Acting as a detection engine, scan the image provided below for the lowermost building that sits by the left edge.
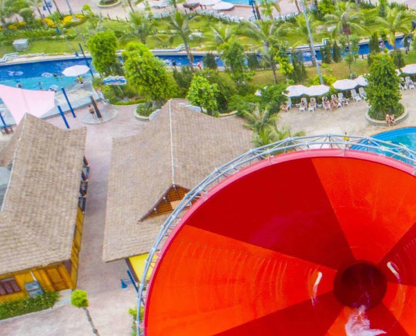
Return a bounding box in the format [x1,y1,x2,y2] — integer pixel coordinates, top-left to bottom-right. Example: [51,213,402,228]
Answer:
[0,110,98,304]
